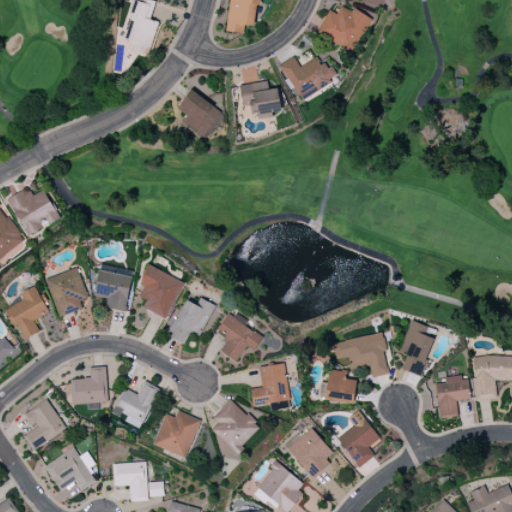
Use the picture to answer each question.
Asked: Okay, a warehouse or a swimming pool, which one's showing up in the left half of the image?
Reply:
swimming pool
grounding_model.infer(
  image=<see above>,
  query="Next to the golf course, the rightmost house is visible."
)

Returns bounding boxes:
[473,356,512,401]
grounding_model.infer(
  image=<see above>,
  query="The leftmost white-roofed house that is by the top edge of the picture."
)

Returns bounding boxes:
[126,0,159,55]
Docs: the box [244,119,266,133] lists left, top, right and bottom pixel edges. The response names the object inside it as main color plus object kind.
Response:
blue swimming pool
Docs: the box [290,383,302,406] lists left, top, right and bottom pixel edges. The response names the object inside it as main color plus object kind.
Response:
blue swimming pool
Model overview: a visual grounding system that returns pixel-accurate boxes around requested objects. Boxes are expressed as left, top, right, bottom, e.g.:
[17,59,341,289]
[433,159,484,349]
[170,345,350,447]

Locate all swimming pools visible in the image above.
[96,240,126,262]
[325,414,349,430]
[290,383,302,406]
[52,250,75,268]
[244,119,266,133]
[432,336,452,358]
[7,282,19,298]
[254,460,268,482]
[114,44,125,71]
[474,340,495,350]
